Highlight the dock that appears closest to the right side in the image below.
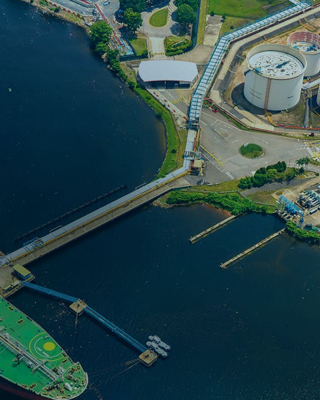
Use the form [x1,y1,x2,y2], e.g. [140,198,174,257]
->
[220,229,288,271]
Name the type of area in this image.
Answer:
industrial area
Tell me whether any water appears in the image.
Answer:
Yes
